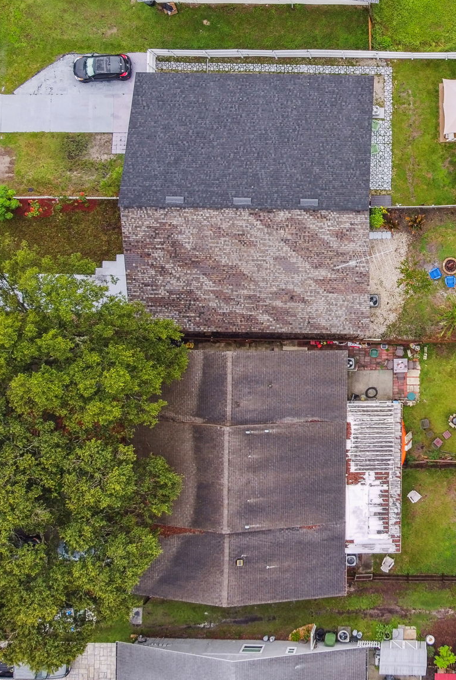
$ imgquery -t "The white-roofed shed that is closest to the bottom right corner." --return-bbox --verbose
[379,641,425,674]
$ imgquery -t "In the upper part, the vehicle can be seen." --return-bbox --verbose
[76,52,132,83]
